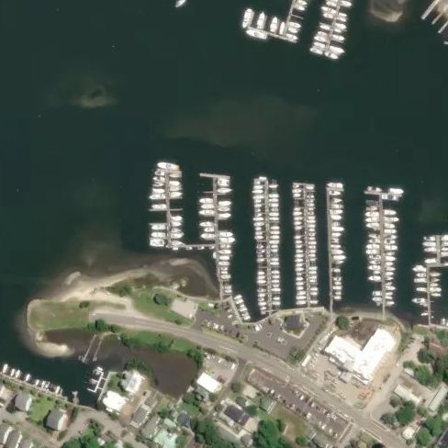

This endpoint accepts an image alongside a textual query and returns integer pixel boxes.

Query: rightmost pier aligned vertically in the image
[415,234,448,323]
